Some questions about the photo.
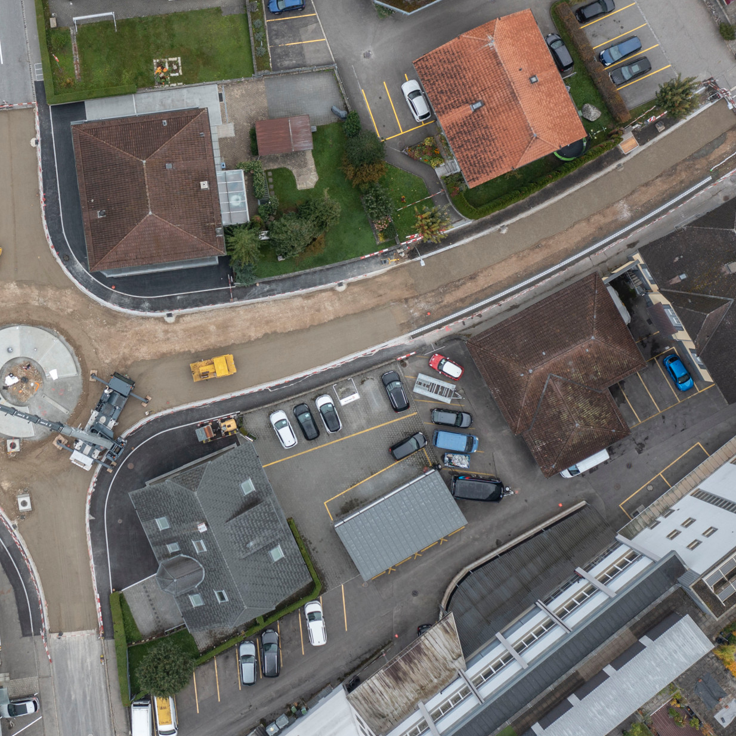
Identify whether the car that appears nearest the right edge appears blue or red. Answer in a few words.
blue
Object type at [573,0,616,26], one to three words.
car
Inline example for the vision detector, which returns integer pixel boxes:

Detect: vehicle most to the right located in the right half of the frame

[663,352,691,392]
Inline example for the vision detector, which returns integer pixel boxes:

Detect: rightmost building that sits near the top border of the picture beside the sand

[413,8,588,188]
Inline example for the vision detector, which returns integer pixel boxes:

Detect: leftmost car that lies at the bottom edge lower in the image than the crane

[0,694,41,718]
